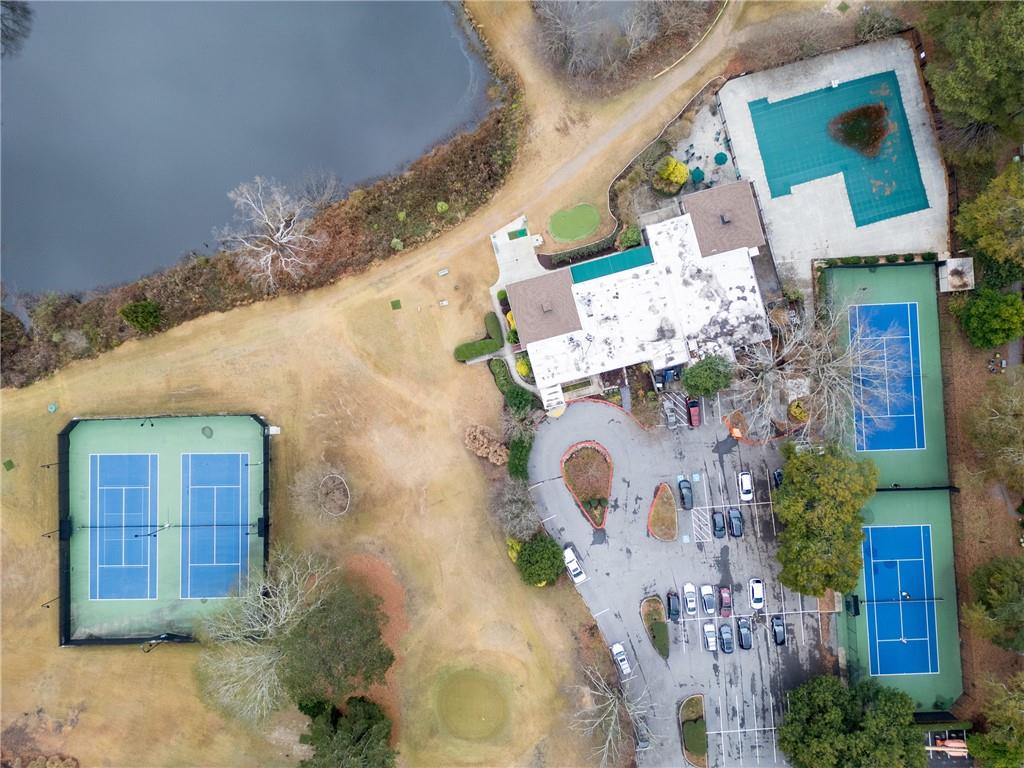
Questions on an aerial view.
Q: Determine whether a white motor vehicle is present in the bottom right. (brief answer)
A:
Yes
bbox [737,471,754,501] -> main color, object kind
white car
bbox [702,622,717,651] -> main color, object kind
white car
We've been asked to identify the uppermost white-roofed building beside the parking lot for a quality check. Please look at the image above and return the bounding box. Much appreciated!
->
[506,180,772,390]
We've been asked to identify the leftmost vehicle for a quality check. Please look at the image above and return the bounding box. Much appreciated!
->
[563,547,586,583]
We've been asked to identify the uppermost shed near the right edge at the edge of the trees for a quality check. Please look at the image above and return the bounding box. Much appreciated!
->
[931,258,974,293]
